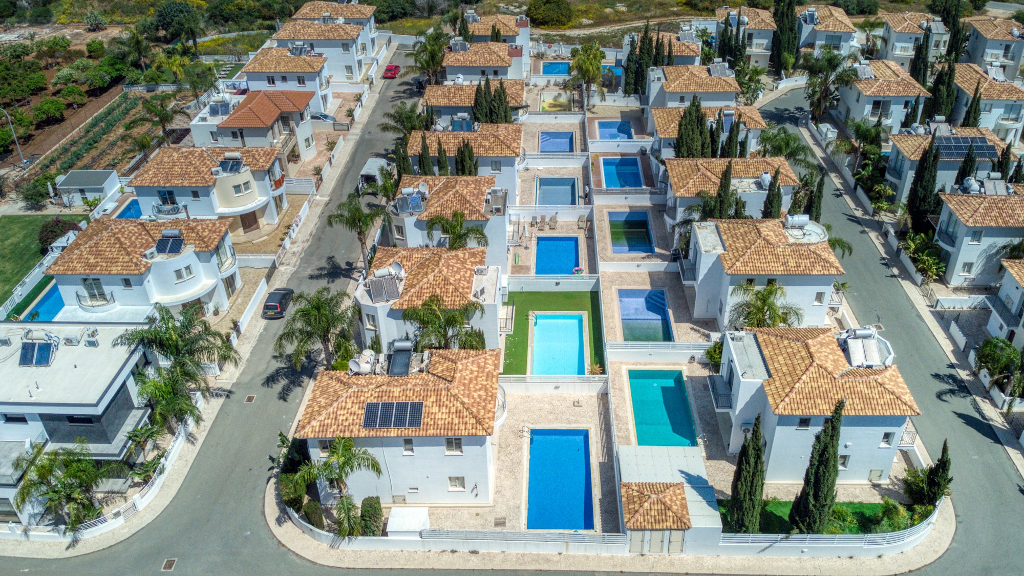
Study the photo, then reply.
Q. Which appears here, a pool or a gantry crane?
pool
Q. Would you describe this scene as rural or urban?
urban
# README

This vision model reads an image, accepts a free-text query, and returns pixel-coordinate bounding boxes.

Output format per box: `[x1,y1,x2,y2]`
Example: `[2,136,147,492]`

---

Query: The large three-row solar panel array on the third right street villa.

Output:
[928,130,1004,154]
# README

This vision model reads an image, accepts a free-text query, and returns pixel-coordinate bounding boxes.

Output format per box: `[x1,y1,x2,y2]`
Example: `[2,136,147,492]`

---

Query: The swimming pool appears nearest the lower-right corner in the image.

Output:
[622,366,706,452]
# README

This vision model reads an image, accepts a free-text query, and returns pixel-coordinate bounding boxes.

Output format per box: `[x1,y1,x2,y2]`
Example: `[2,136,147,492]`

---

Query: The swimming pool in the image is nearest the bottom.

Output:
[520,424,601,534]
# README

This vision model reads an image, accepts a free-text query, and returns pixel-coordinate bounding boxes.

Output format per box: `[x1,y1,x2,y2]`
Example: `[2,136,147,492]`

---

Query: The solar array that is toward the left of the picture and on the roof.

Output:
[364,397,432,423]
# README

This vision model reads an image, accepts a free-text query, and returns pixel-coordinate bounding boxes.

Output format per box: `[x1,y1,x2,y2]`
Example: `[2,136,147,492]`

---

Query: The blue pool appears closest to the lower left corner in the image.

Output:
[19,280,68,319]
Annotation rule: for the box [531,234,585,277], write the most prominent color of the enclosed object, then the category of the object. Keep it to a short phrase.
blue swimming pool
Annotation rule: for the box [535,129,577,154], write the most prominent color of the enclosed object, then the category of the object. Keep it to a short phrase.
blue swimming pool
